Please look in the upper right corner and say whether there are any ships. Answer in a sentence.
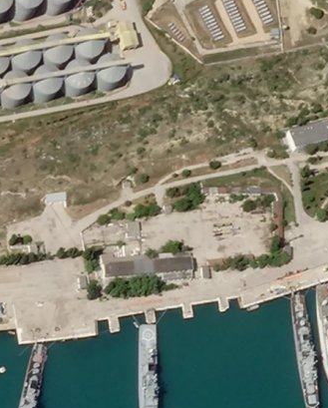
No, no ship appears in the upper right corner.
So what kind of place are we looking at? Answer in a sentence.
The area seen from above is an industrial area.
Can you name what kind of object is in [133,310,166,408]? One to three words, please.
ship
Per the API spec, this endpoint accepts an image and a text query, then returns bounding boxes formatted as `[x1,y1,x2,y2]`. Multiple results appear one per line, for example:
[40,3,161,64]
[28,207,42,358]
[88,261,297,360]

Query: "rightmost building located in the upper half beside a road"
[288,119,328,151]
